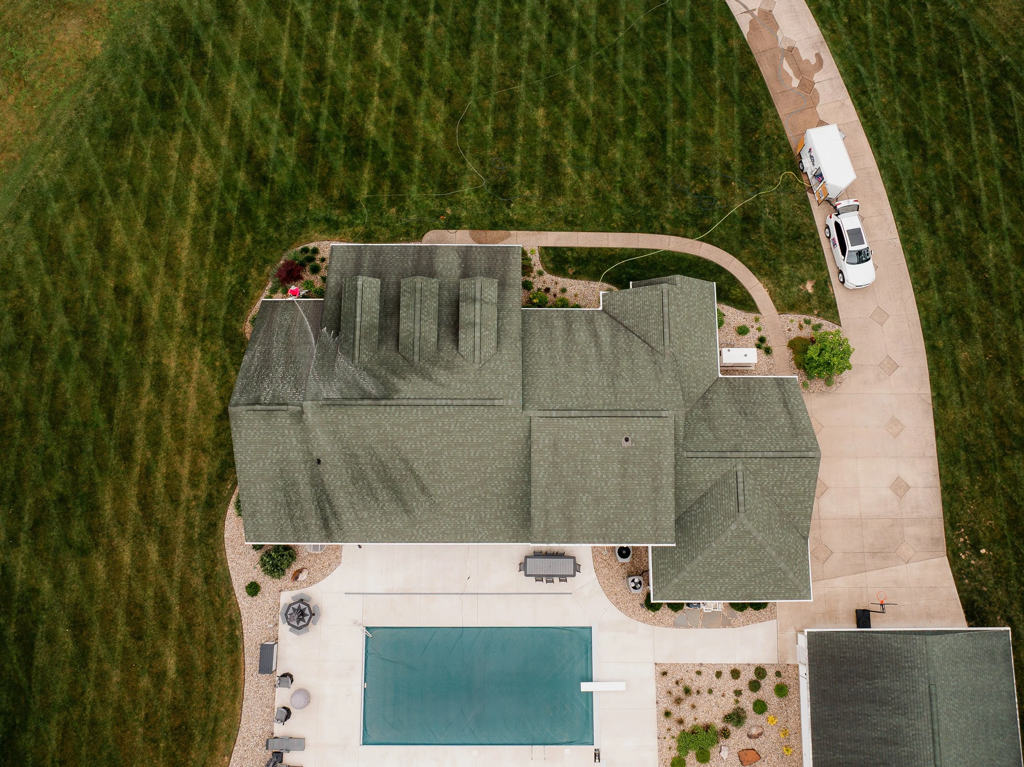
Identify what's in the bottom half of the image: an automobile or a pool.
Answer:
pool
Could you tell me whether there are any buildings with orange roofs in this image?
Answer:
No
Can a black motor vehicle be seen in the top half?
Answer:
No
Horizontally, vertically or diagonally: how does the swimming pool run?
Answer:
horizontally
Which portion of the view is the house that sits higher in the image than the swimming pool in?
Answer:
center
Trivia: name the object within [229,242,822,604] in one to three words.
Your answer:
house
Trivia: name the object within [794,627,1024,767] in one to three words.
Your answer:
building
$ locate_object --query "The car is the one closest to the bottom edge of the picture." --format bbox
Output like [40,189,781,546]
[823,198,874,289]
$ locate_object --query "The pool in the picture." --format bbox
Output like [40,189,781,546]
[358,622,601,749]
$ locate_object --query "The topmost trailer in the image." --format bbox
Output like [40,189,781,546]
[795,122,857,216]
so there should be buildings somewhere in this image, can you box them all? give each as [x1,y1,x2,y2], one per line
[229,242,822,604]
[794,627,1024,767]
